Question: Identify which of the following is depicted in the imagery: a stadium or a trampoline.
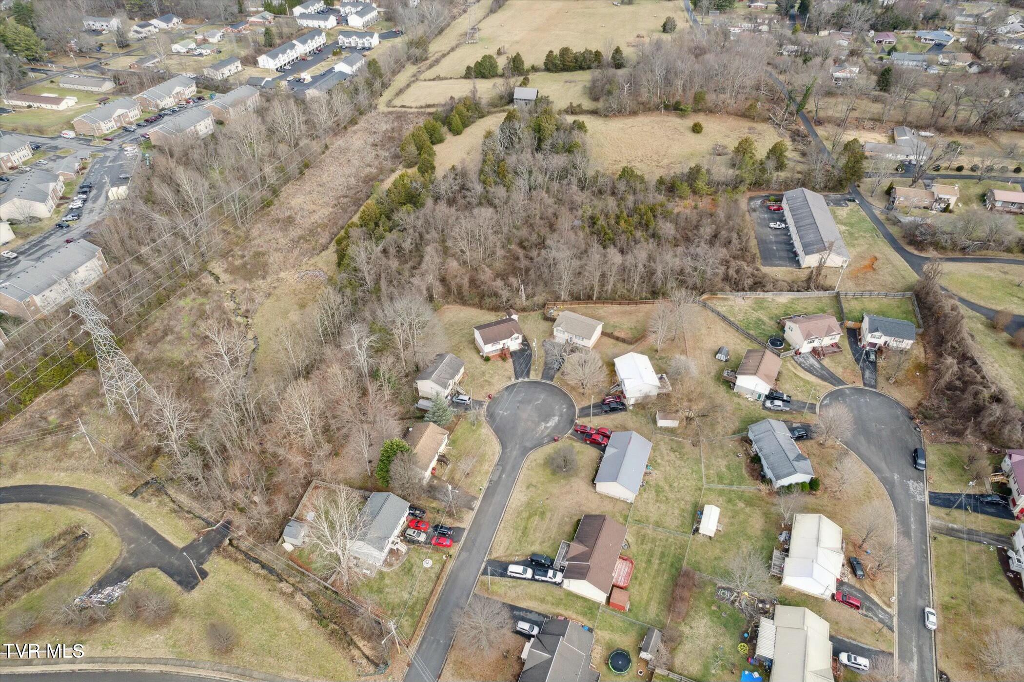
trampoline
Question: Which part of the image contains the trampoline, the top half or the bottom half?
bottom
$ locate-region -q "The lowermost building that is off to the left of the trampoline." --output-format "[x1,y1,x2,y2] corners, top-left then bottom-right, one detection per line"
[510,616,594,682]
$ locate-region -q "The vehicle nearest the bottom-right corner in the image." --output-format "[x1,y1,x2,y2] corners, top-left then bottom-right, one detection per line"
[924,605,938,631]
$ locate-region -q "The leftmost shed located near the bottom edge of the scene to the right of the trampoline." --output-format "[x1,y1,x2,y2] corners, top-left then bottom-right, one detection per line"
[641,627,663,662]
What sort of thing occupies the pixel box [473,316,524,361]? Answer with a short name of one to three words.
house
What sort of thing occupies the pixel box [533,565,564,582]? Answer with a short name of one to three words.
vehicle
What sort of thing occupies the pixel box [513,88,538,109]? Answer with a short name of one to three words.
barn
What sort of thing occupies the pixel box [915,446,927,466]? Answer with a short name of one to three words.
vehicle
